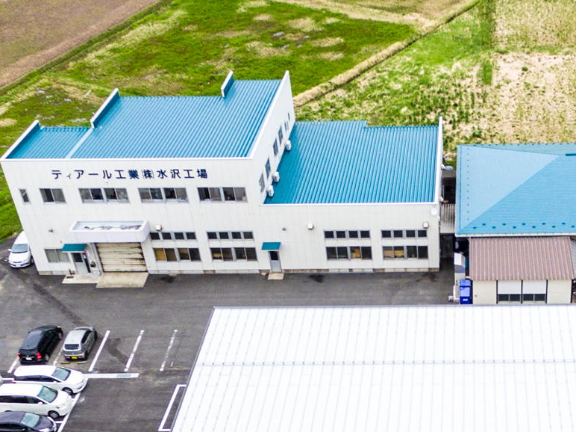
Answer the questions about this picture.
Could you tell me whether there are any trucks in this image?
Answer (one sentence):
No, the photo shows no truck.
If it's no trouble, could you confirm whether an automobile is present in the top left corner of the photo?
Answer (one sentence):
No, there's no automobile to be seen in the top left corner of the photo.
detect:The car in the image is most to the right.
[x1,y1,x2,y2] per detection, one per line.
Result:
[62,322,99,357]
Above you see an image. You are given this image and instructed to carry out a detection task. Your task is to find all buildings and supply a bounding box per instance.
[166,304,576,432]
[456,144,576,263]
[2,72,444,273]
